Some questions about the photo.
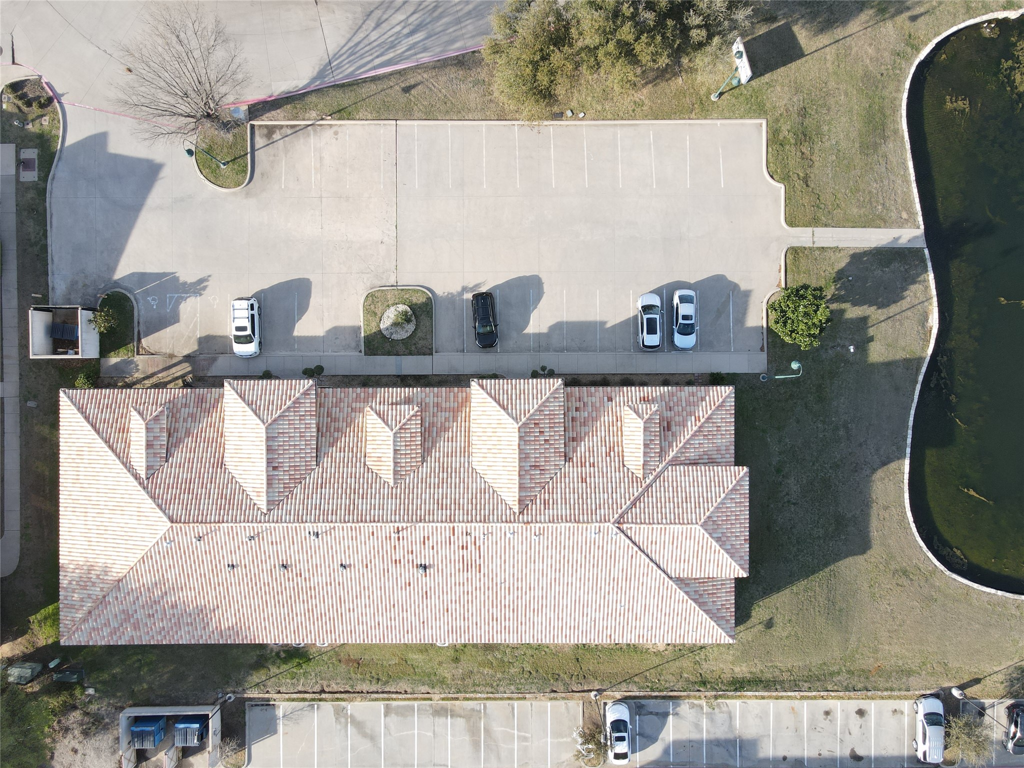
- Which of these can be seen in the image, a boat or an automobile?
automobile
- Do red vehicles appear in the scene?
No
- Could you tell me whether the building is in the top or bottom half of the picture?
bottom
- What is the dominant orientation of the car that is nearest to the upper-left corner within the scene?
up and down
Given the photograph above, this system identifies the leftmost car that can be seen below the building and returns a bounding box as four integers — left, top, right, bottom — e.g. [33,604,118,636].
[605,701,633,763]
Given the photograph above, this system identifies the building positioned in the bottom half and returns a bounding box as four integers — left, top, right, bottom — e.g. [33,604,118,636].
[57,377,750,646]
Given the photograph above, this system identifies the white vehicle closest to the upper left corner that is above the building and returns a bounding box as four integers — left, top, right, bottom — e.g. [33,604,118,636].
[232,296,263,357]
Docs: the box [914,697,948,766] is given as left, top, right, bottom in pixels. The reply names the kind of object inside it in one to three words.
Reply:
car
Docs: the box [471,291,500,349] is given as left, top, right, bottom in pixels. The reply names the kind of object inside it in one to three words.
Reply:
car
